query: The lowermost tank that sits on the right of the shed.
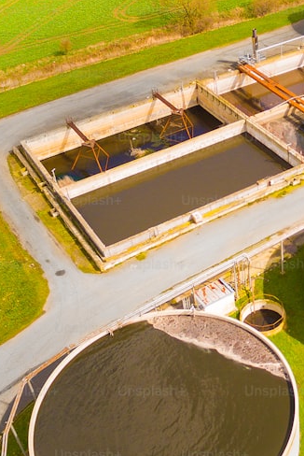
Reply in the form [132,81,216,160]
[239,280,290,339]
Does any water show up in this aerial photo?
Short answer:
Yes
